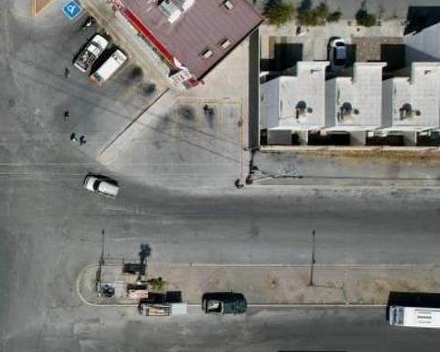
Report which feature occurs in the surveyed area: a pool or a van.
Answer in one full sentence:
There is a van in the scene.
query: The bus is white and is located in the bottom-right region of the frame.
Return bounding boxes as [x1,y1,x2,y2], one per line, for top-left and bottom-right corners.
[391,303,440,329]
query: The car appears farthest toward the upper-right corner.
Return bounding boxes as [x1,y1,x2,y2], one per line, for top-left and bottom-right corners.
[328,37,347,67]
